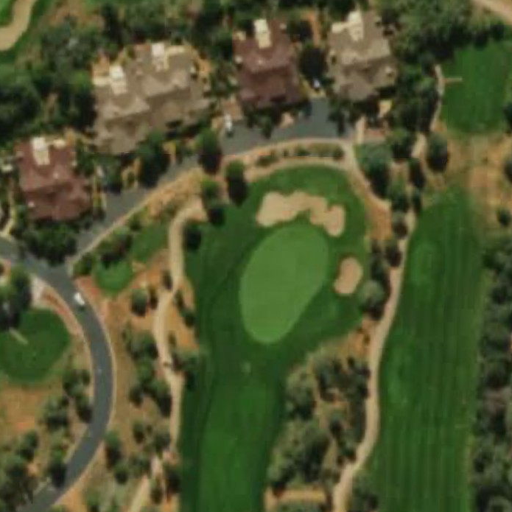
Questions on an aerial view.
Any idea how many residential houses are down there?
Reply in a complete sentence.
The number of residential houses here is 4.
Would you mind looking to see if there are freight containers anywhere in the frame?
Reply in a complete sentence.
No, I can't see a single freight container in this photo.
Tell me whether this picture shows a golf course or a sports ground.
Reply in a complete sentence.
It's a golf course.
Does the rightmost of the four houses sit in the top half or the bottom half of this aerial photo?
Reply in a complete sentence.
The rightmost of the four houses is in the top half of the image.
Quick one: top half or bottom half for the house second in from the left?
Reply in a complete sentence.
Seen from above, the house second in from the left lies in the top half of the view.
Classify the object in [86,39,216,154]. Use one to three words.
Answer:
house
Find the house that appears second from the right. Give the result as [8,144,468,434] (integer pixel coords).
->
[234,16,301,108]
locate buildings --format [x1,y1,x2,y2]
[2,135,93,223]
[327,6,400,101]
[234,16,301,108]
[86,39,216,154]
